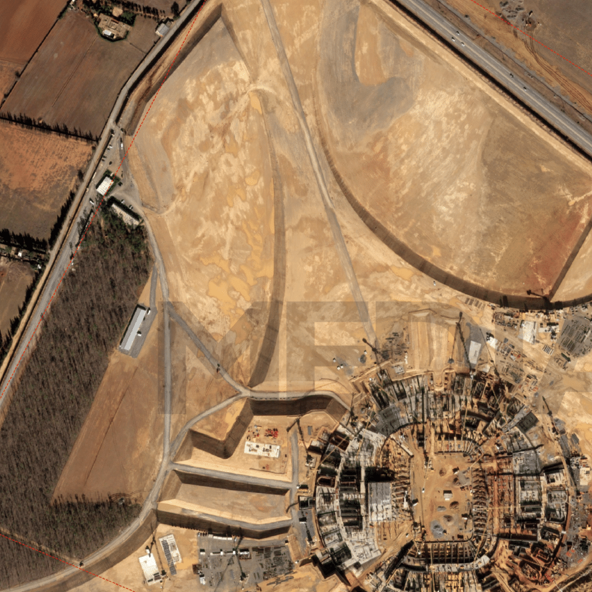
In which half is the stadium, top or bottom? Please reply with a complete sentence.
You can find the stadium in the bottom half.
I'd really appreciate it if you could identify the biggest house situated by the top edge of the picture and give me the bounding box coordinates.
[98,12,132,40]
